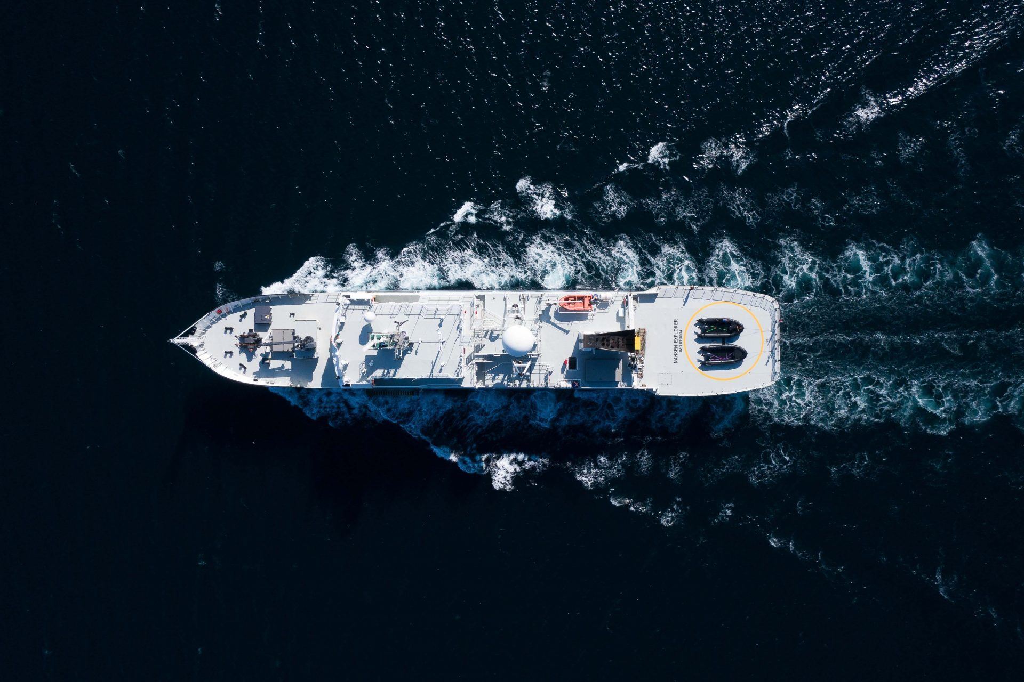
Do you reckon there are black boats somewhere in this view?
Yes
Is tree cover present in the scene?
No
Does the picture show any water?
Yes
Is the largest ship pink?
No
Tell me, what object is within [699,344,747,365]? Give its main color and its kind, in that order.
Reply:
black boat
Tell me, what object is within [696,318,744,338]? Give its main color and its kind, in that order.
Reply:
black boat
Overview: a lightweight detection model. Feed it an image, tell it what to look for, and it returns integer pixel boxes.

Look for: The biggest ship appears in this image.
[170,286,790,399]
